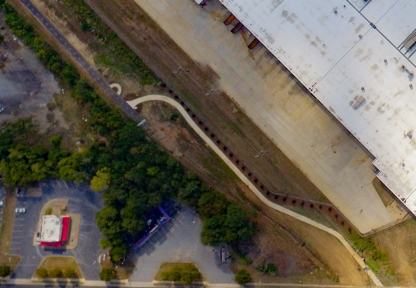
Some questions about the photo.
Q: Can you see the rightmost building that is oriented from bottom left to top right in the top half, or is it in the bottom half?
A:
bottom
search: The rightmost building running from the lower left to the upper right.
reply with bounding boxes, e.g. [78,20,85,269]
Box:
[132,204,172,250]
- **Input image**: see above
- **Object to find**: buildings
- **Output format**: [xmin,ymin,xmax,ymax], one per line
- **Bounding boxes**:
[197,0,416,217]
[39,214,70,247]
[132,204,172,250]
